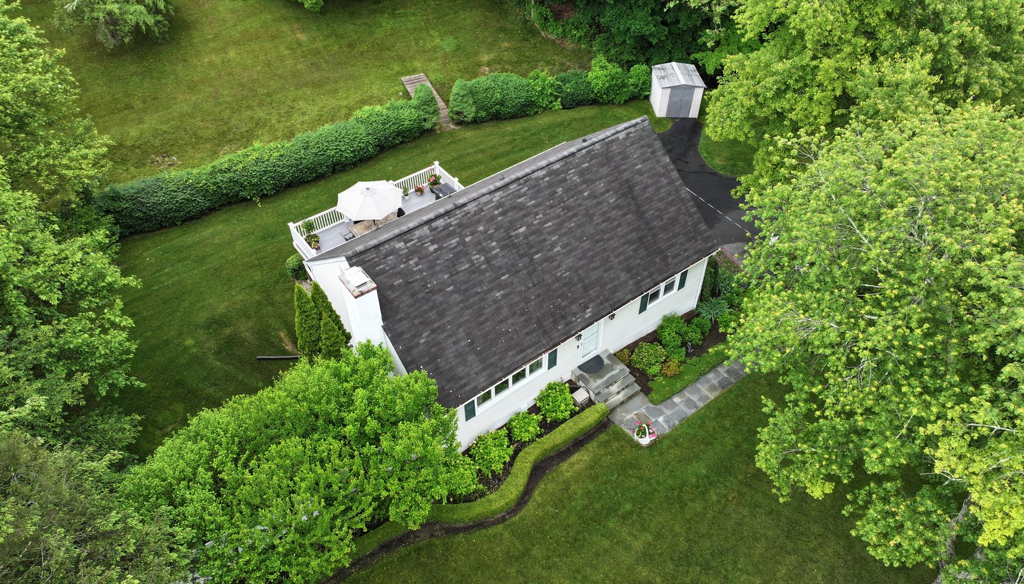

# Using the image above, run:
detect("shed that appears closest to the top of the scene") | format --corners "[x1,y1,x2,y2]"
[654,59,706,118]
